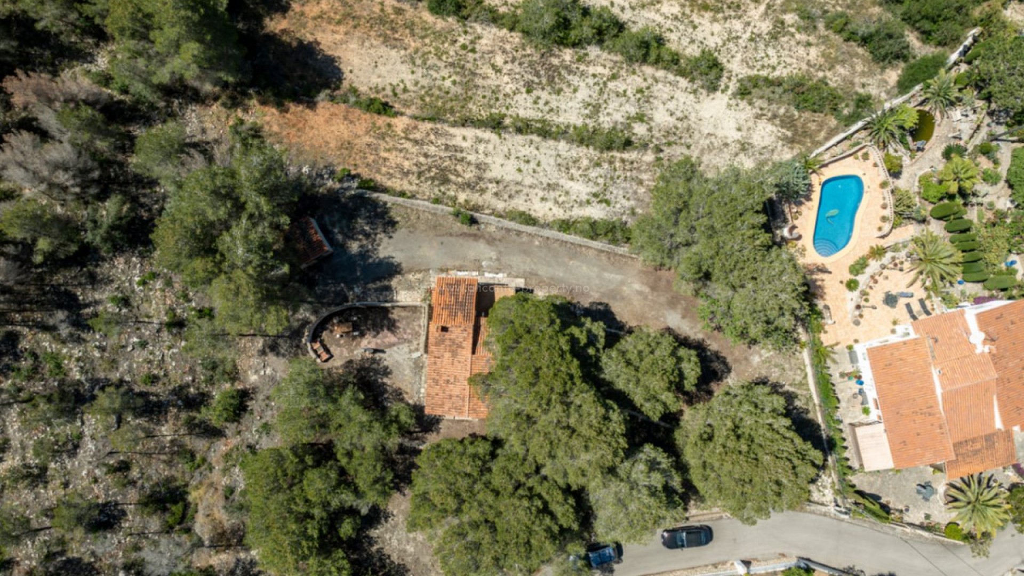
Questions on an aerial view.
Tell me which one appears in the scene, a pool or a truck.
pool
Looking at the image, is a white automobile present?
No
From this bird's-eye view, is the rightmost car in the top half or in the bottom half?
bottom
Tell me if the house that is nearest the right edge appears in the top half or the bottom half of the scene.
bottom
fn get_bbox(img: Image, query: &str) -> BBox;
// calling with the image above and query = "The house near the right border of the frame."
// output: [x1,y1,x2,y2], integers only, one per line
[851,290,1024,480]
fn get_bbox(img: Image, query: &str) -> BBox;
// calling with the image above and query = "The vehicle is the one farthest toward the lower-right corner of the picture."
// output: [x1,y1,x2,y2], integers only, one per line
[663,524,710,550]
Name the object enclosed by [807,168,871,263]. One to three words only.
swimming pool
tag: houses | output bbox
[851,290,1024,480]
[424,277,535,419]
